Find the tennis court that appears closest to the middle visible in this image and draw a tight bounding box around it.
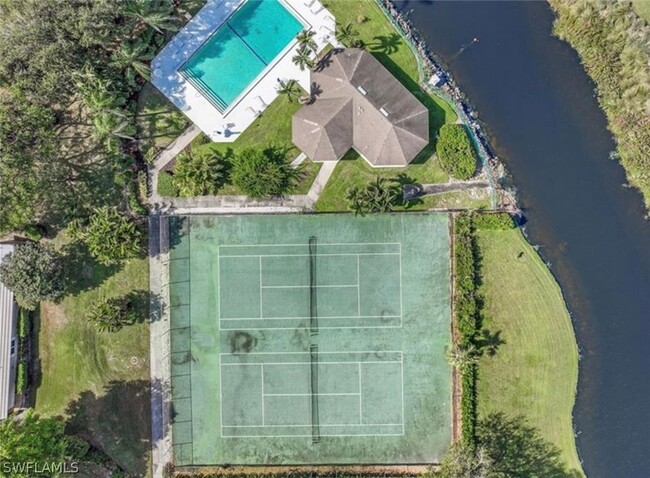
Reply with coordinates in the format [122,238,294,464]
[219,243,402,330]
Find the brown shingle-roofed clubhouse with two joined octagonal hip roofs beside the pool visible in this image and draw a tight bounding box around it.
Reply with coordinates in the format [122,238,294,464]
[292,50,429,167]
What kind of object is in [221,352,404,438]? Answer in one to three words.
tennis court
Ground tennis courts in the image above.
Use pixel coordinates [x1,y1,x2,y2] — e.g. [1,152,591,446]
[221,352,404,438]
[219,243,402,330]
